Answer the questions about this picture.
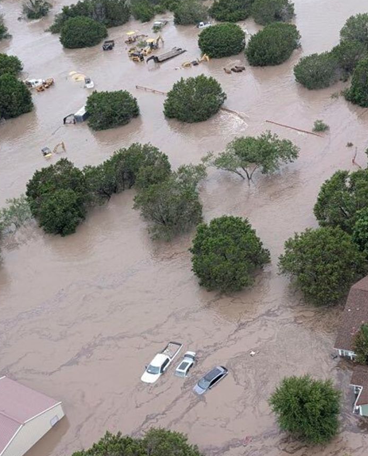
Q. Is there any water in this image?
Yes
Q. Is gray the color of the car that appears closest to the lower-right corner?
Yes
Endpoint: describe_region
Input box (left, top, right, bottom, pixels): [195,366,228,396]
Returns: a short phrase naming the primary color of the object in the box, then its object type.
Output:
gray car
